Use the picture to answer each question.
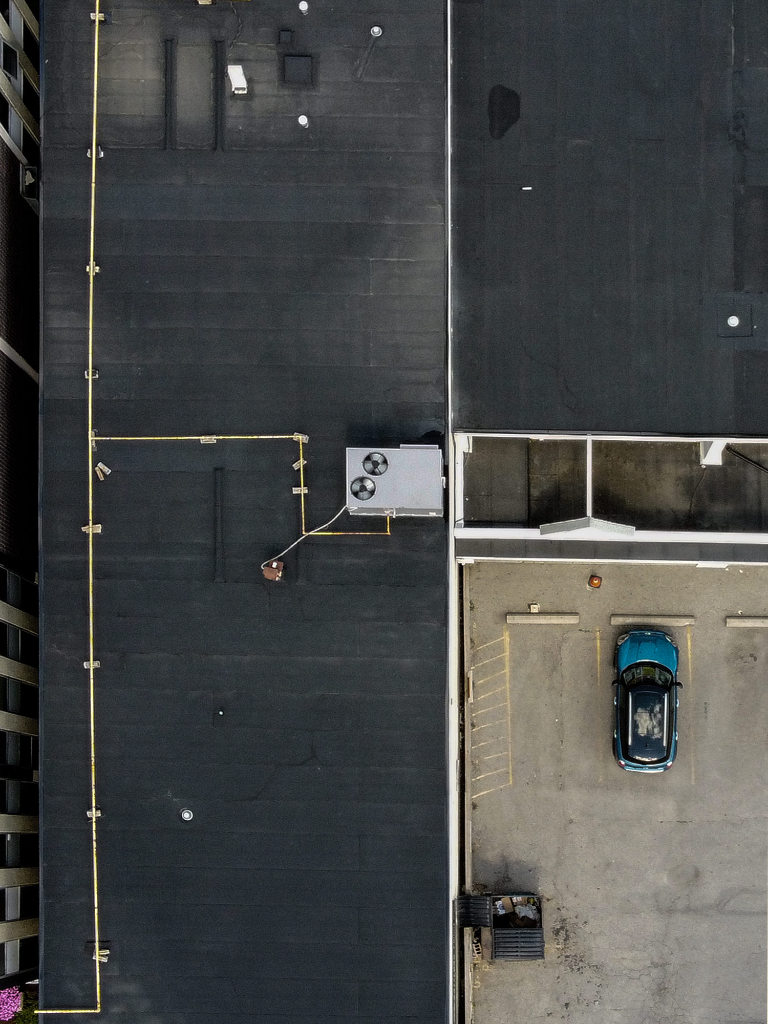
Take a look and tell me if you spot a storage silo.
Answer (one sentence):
No, no storage silo is visible in the scene.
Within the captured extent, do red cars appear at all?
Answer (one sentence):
No, no red car can be seen from above.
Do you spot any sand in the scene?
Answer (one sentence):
No, there's no sand in this view.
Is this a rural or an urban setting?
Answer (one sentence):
This place is urban.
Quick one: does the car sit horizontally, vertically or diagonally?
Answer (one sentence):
In this picture, the car lies vertically.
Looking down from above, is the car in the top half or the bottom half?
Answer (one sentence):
Seen from above, the car lies in the bottom half of the view.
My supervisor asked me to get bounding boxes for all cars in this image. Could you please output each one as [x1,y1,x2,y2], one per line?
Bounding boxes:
[612,630,683,774]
